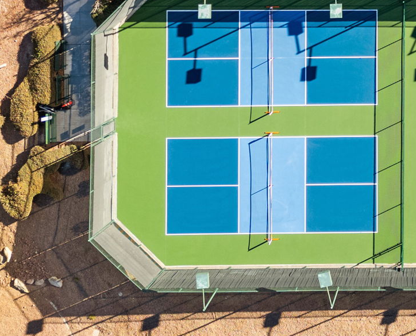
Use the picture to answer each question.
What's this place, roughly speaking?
sports ground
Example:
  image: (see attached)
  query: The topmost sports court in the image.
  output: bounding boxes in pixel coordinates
[167,10,377,106]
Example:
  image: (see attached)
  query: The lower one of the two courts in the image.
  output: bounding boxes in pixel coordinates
[167,137,377,234]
